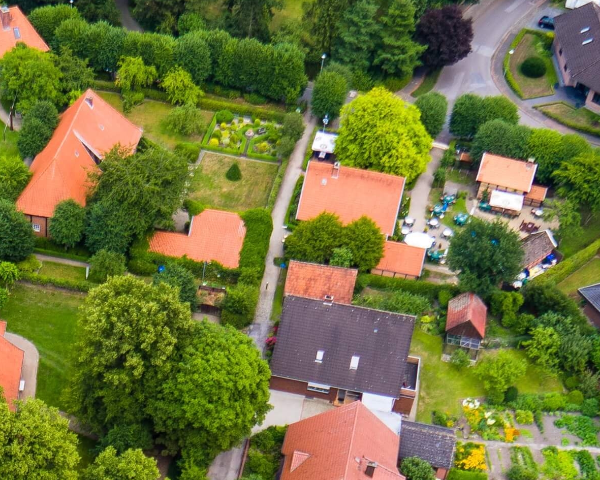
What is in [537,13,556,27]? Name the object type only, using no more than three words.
car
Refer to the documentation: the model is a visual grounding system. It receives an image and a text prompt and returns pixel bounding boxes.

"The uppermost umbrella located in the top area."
[314,135,335,158]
